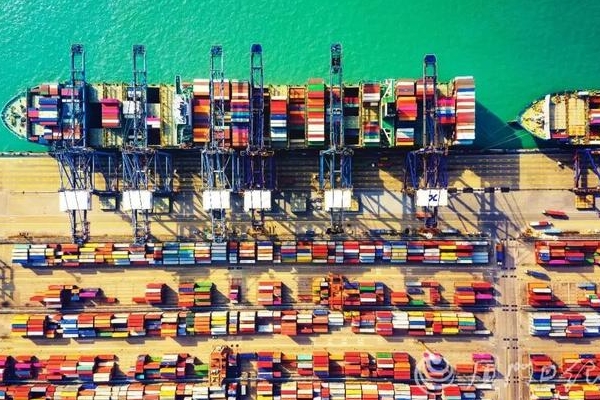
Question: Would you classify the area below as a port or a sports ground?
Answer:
port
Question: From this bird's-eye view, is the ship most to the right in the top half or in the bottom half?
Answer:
top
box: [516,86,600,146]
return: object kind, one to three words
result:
ship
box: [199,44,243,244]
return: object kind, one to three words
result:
container crane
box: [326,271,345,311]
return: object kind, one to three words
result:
crane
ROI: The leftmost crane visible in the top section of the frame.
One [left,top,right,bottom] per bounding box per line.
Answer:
[46,45,125,245]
